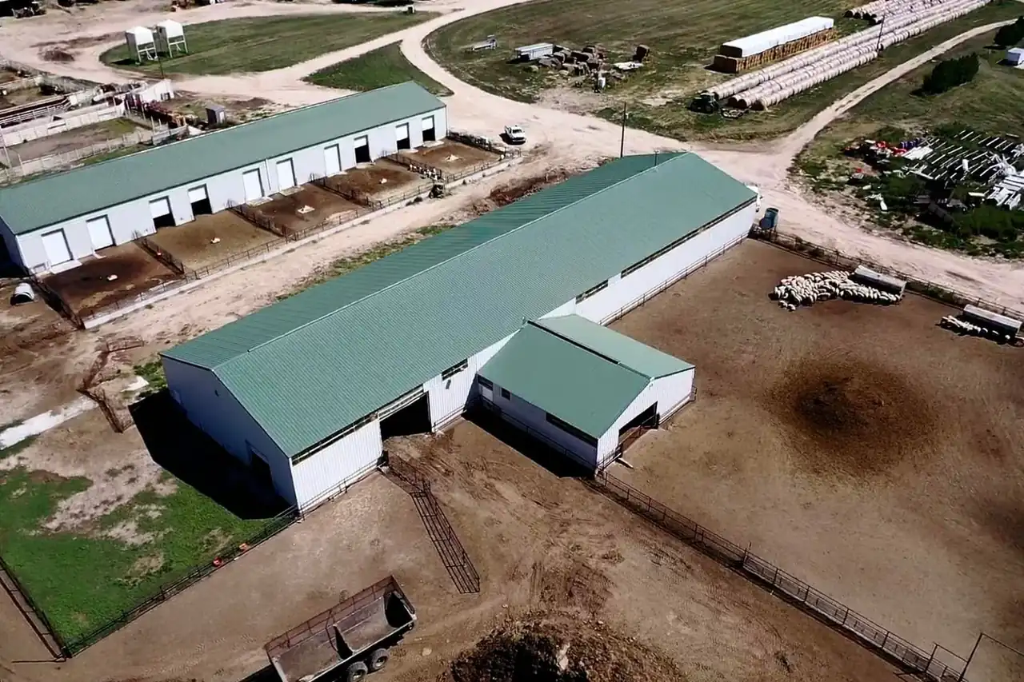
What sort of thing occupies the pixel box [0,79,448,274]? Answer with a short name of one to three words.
barn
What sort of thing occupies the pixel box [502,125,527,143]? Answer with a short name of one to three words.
vehicle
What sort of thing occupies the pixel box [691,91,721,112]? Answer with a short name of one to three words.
work vehicle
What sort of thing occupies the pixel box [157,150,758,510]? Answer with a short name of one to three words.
barn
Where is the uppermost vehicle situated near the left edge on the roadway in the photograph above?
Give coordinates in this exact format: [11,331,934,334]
[28,1,45,15]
